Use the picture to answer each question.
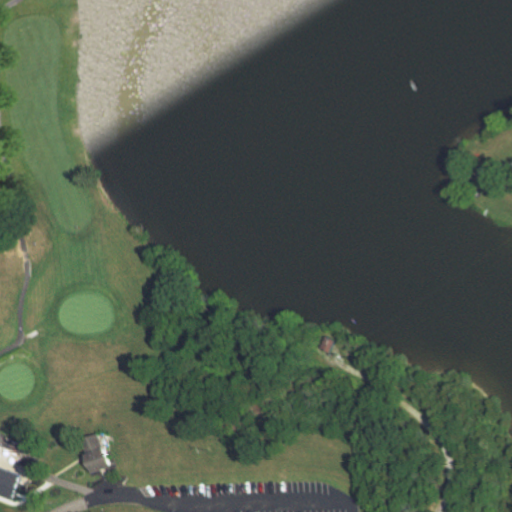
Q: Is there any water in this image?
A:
Yes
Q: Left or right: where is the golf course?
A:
left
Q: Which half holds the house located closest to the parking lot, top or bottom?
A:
bottom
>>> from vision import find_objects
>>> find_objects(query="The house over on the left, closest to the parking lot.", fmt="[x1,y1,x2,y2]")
[82,435,111,474]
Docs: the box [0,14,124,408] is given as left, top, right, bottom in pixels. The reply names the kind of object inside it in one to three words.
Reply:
golf course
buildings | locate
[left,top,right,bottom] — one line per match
[320,337,334,354]
[82,435,111,474]
[0,470,24,500]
